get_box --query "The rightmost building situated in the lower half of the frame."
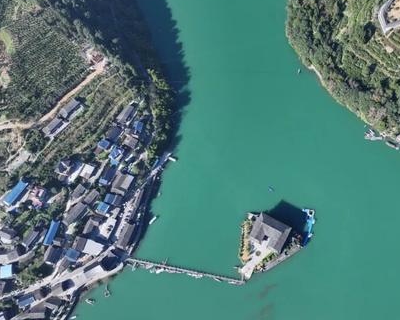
[249,209,292,254]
